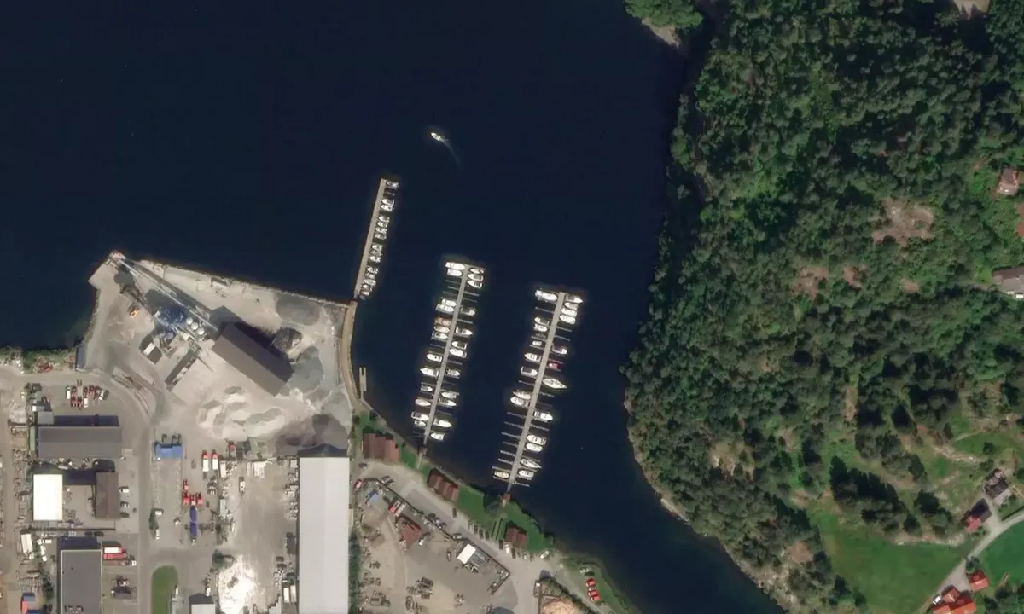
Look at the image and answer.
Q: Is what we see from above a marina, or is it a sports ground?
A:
marina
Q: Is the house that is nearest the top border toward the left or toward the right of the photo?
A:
right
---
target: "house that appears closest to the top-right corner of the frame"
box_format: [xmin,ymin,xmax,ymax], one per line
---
[997,165,1022,188]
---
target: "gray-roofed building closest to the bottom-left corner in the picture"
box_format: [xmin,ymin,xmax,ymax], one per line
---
[61,549,103,614]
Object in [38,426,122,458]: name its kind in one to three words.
building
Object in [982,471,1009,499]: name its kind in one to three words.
house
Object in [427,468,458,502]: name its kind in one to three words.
building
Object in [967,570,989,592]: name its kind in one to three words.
house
